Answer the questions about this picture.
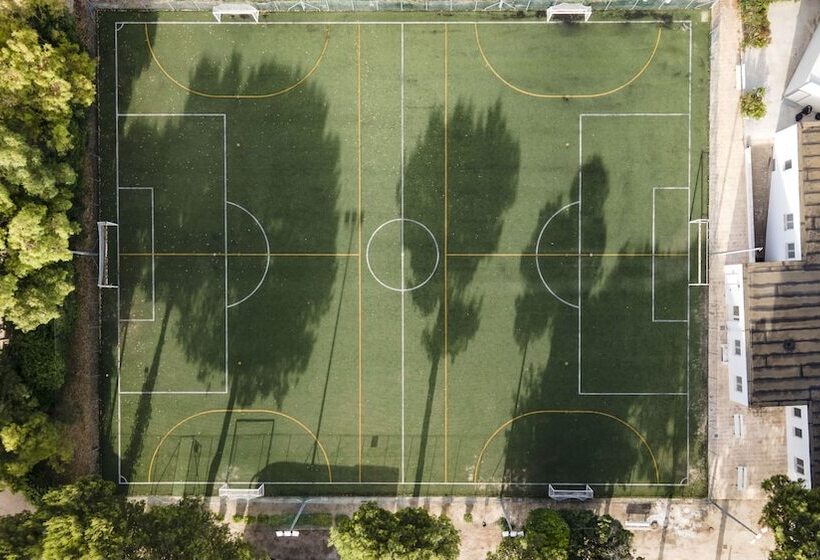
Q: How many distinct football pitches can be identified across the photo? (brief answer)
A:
3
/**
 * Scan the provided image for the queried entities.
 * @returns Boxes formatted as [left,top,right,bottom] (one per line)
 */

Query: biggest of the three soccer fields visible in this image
[98,10,709,498]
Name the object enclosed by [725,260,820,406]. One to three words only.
building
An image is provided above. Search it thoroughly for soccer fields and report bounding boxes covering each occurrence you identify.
[119,22,360,484]
[98,10,709,498]
[445,22,689,484]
